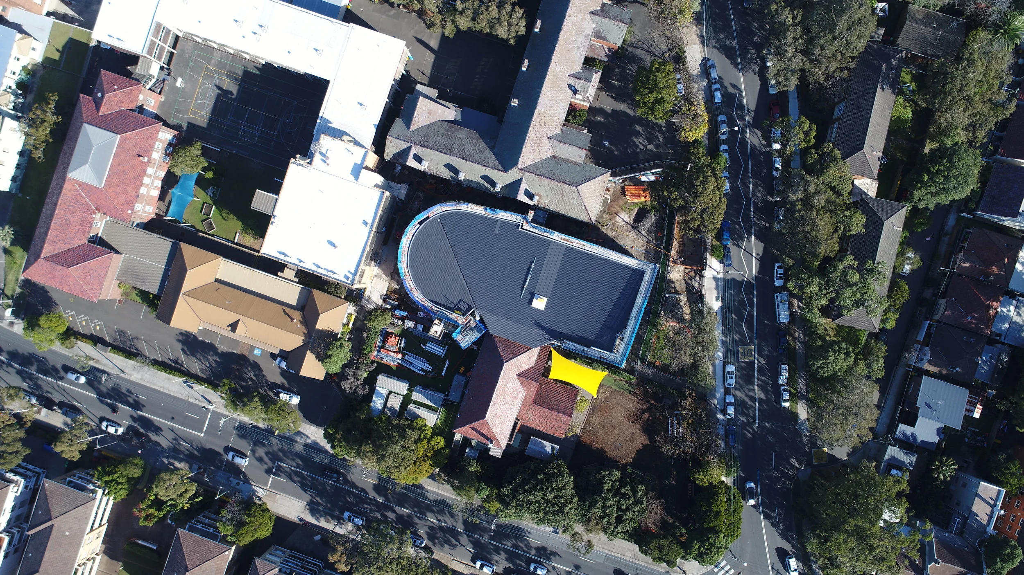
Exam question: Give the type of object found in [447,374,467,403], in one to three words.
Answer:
shed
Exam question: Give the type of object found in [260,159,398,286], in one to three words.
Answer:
building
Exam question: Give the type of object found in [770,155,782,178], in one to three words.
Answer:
vehicle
